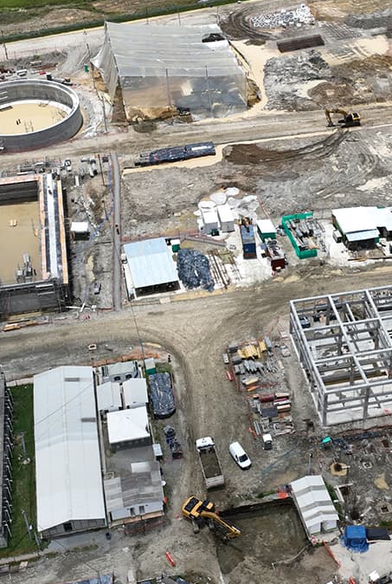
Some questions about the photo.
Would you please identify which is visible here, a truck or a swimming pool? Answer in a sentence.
Looking from above, you can make out a truck.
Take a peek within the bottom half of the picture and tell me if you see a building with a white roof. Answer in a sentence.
Yes, a building with a white roof shows up within the bottom half of the picture.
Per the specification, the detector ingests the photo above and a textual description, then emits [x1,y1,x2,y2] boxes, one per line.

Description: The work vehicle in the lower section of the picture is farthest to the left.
[166,430,182,456]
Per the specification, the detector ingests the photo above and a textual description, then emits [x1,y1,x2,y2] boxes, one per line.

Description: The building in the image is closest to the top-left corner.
[70,221,89,239]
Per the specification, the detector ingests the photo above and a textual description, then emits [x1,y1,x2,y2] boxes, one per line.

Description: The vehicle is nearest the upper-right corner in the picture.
[322,102,362,125]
